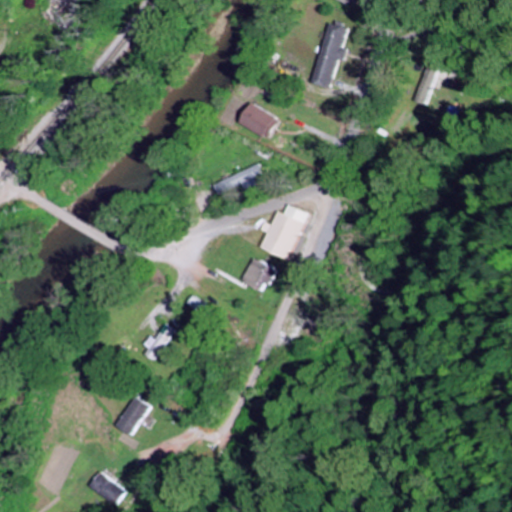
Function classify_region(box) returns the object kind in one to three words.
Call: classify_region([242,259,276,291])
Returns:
house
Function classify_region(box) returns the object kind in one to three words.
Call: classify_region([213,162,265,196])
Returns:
house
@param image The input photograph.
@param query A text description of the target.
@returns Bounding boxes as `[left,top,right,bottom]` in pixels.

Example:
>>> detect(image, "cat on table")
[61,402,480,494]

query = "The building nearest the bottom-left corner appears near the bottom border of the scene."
[91,468,129,505]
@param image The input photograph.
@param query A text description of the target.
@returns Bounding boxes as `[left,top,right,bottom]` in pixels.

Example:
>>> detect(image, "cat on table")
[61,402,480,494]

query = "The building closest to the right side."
[414,68,452,106]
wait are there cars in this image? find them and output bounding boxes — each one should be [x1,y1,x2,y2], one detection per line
[206,294,218,304]
[335,80,348,89]
[413,60,422,73]
[294,120,306,129]
[254,220,266,230]
[206,268,217,276]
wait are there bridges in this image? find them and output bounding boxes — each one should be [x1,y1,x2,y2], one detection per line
[21,180,122,252]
